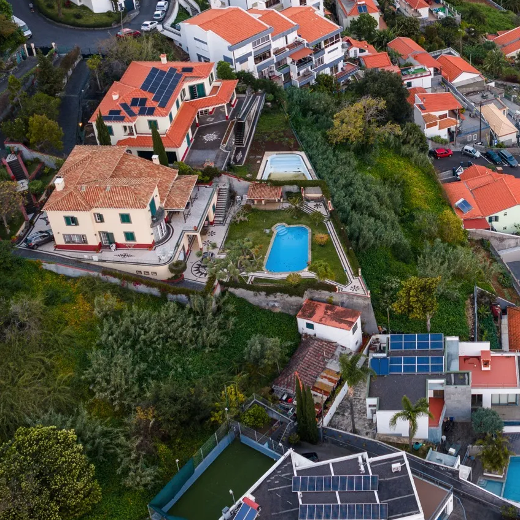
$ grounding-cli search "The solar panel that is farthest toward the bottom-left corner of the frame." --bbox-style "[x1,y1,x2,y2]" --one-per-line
[234,501,260,520]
